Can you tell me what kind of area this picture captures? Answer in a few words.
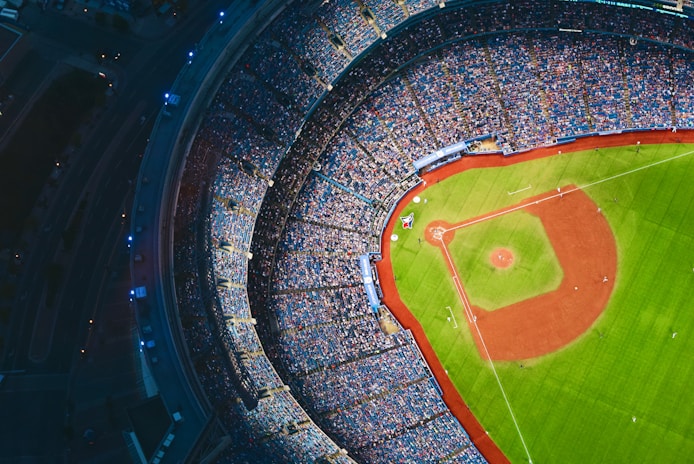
sports ground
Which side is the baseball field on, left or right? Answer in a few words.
right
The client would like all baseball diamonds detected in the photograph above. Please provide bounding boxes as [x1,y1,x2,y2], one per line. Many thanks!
[379,133,694,464]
